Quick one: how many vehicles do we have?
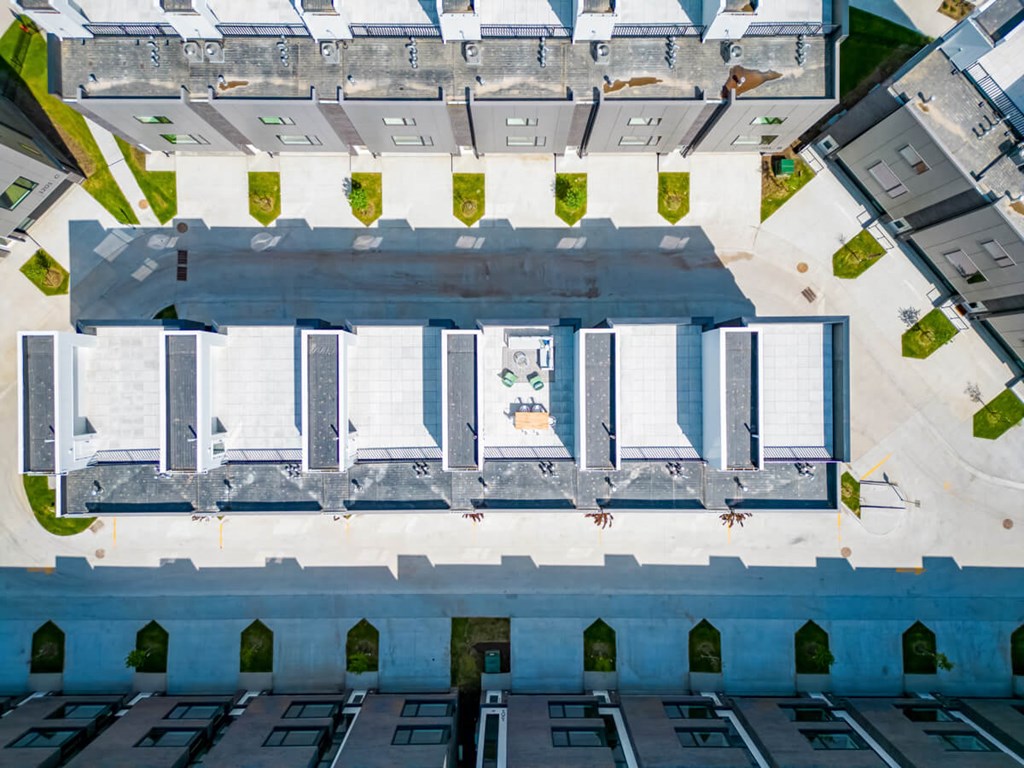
0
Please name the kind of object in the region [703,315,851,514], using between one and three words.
house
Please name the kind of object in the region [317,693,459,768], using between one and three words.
house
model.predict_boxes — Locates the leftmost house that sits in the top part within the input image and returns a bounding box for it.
[0,100,89,257]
